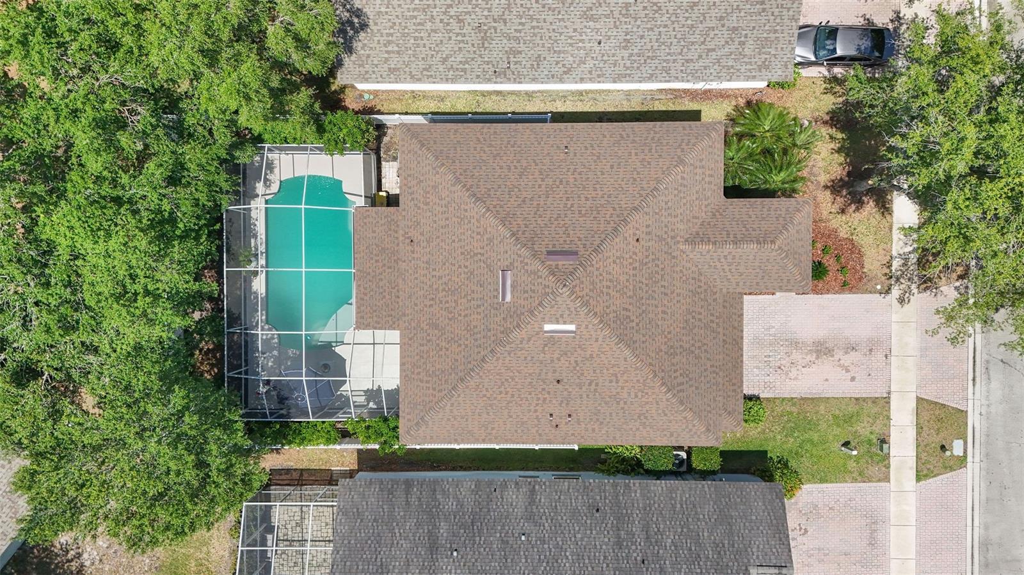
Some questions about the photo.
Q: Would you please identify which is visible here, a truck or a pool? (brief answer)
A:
pool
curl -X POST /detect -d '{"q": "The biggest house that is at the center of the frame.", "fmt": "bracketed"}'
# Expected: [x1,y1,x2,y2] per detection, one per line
[355,121,813,447]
